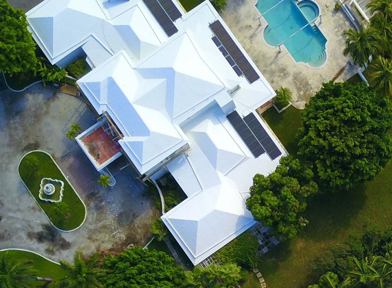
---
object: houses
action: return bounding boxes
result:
[28,0,284,266]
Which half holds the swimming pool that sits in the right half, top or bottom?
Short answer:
top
